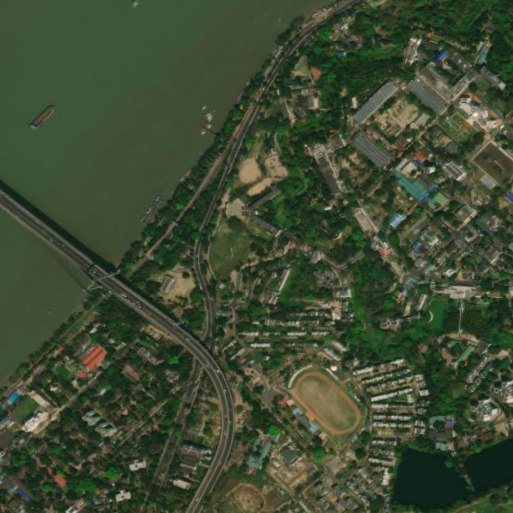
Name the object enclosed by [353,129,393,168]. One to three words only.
building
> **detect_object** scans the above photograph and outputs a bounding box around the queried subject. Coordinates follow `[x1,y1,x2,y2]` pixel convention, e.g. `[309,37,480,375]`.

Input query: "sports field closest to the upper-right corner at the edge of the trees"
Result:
[472,140,513,185]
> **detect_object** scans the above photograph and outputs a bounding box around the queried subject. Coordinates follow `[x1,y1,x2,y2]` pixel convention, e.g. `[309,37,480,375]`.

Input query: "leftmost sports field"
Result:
[232,483,268,513]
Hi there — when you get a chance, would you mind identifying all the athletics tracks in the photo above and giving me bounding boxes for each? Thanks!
[290,365,363,437]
